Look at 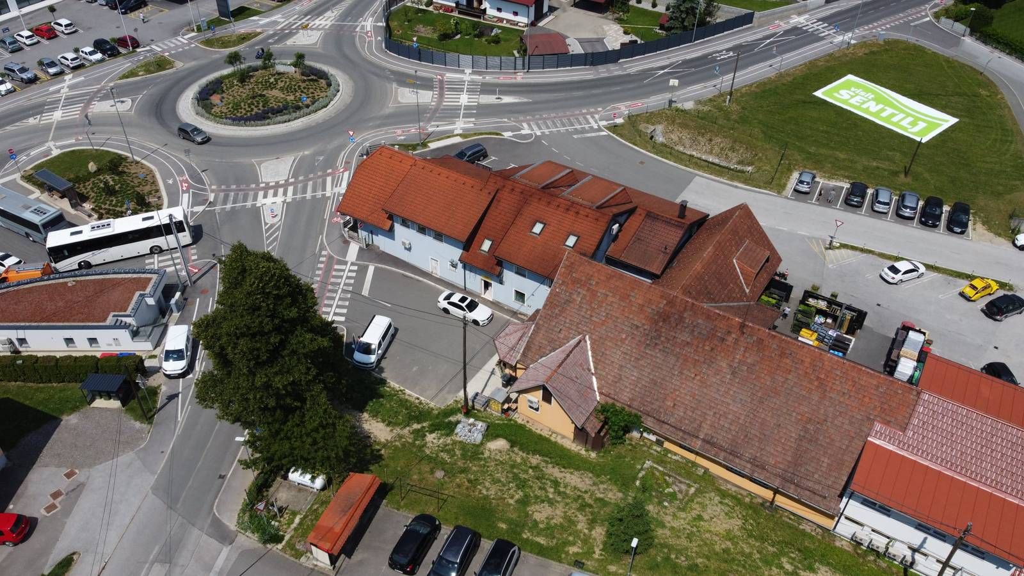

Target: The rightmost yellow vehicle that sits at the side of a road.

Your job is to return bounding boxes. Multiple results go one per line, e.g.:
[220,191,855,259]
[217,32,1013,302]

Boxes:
[960,278,1003,304]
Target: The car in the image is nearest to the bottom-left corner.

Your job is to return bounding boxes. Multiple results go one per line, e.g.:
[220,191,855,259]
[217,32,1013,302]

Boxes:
[0,509,38,547]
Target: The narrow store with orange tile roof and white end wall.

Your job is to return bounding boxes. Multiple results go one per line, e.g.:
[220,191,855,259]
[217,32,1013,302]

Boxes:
[308,473,383,573]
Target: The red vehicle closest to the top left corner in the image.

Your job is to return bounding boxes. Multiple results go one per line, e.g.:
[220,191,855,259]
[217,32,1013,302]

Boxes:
[32,27,56,41]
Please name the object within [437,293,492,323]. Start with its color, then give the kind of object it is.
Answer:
white car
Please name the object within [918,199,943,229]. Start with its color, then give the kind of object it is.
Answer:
black car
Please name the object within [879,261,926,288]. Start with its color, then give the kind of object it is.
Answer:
white car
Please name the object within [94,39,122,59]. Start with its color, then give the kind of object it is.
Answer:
black car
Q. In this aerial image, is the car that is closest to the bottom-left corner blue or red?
red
